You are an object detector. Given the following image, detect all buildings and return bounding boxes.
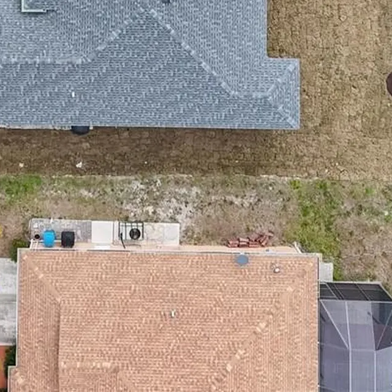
[0,0,301,130]
[6,238,323,392]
